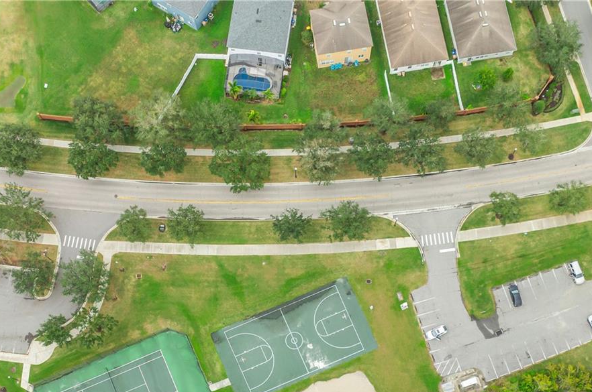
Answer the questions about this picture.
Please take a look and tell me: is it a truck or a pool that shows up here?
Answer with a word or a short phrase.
pool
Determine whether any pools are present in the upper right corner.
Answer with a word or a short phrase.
No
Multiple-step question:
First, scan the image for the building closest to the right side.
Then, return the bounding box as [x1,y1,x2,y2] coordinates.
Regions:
[442,0,517,65]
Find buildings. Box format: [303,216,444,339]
[310,0,373,67]
[442,0,517,65]
[142,0,220,32]
[91,0,125,17]
[375,0,448,74]
[226,0,293,67]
